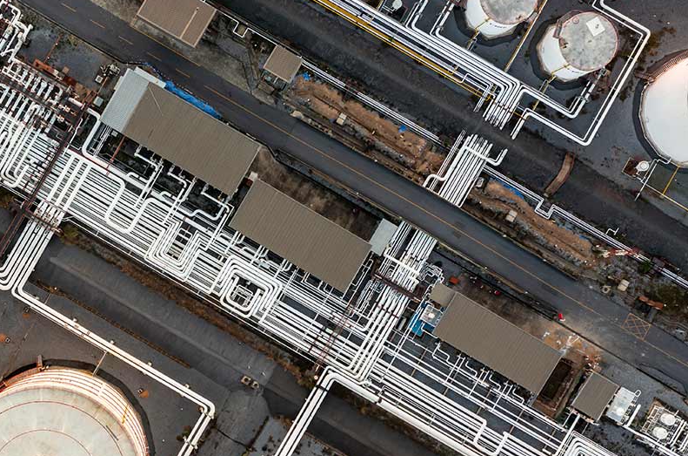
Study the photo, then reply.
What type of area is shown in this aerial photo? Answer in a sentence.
This looks like an industrial area.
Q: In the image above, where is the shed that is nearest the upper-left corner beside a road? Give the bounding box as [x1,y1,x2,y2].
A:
[137,0,217,52]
